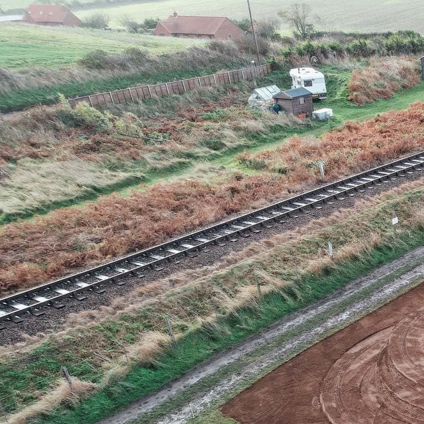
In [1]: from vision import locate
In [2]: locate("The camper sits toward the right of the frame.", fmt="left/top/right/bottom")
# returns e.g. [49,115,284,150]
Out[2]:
[288,64,326,99]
